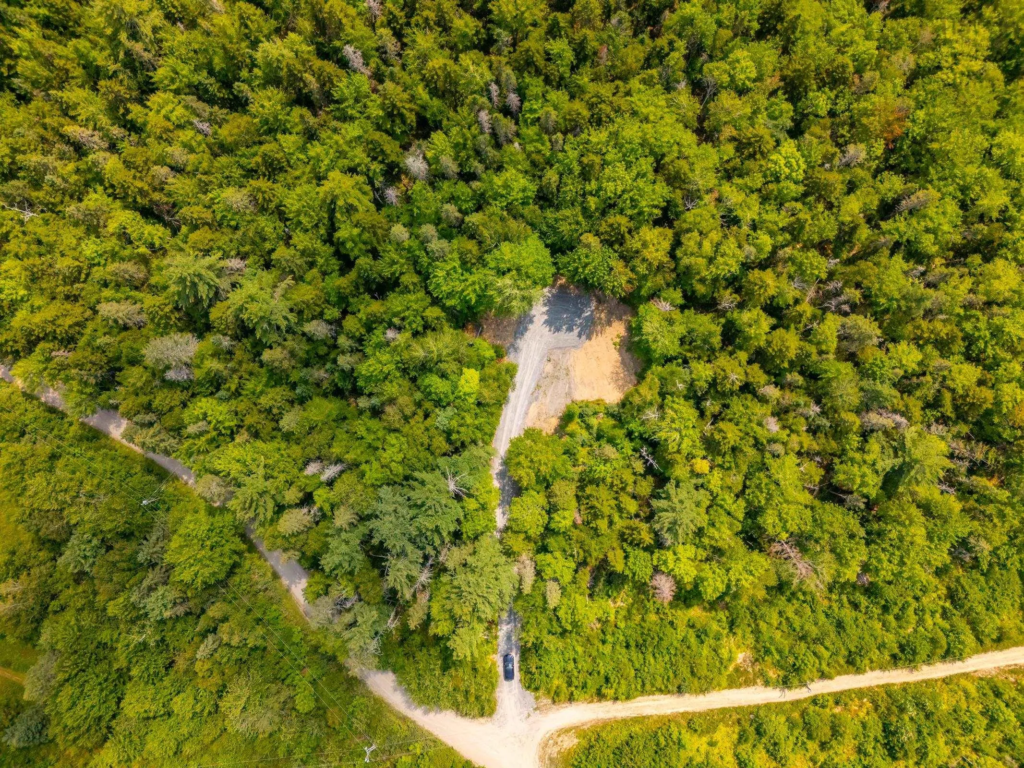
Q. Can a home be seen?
No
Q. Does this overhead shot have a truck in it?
No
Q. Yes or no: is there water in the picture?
No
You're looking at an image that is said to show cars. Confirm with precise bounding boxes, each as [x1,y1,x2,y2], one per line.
[503,654,515,681]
